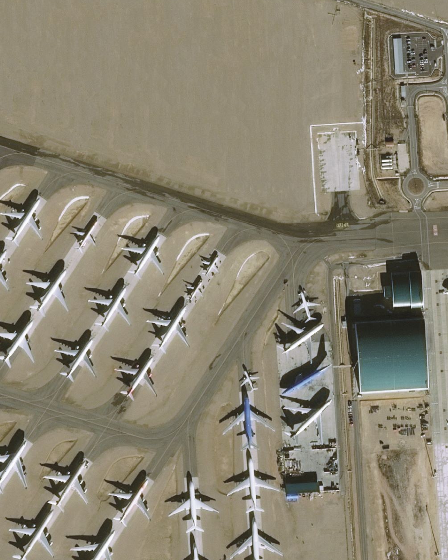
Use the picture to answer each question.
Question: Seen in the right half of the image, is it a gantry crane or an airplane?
airplane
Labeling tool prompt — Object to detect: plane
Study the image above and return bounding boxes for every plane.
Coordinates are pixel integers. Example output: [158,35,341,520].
[186,282,203,302]
[27,270,69,317]
[202,256,220,278]
[89,288,131,331]
[73,221,98,251]
[0,442,28,494]
[0,198,43,247]
[282,363,333,396]
[293,292,320,322]
[276,322,324,364]
[9,509,54,560]
[0,321,35,366]
[223,395,275,452]
[226,458,279,514]
[147,309,189,354]
[108,479,152,527]
[122,237,164,280]
[169,479,218,533]
[285,400,333,443]
[54,340,96,383]
[231,519,283,560]
[240,371,258,392]
[74,531,115,560]
[47,462,86,510]
[115,359,156,401]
